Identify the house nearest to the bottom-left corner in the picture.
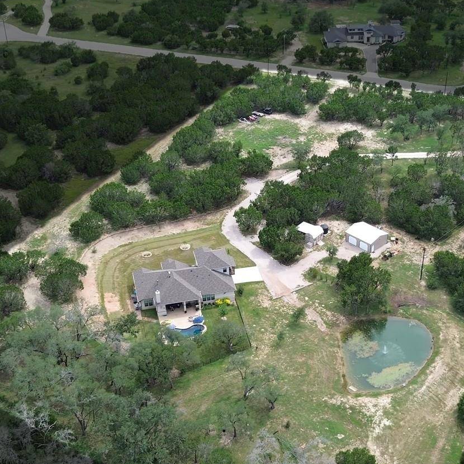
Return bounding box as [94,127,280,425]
[134,245,237,316]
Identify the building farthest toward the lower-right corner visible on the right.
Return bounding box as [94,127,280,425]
[345,219,388,253]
